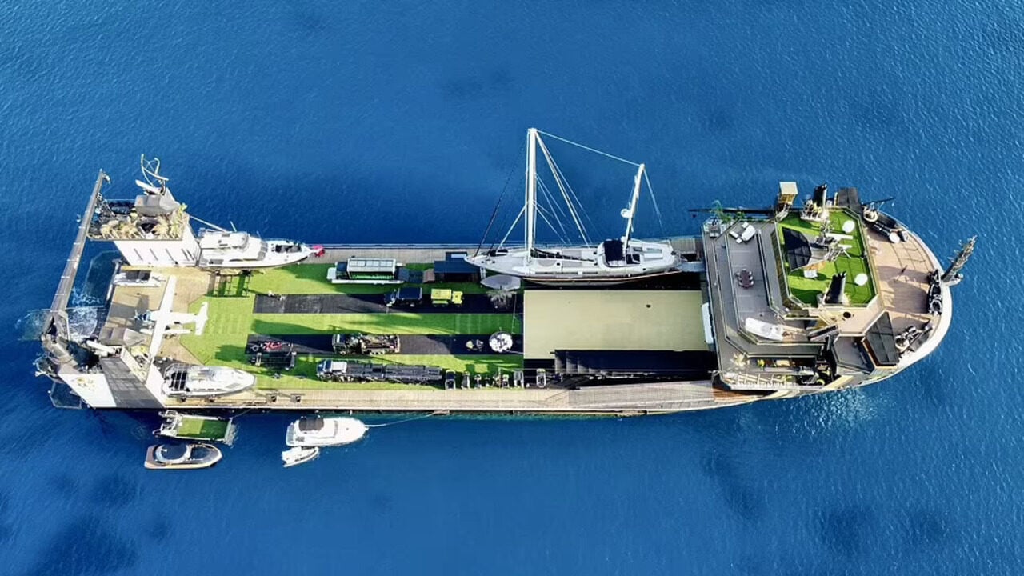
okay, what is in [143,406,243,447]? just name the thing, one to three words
boat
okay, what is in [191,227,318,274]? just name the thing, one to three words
boat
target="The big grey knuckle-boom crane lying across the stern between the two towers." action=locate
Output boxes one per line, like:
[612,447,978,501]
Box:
[30,169,113,381]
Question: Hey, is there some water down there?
Yes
